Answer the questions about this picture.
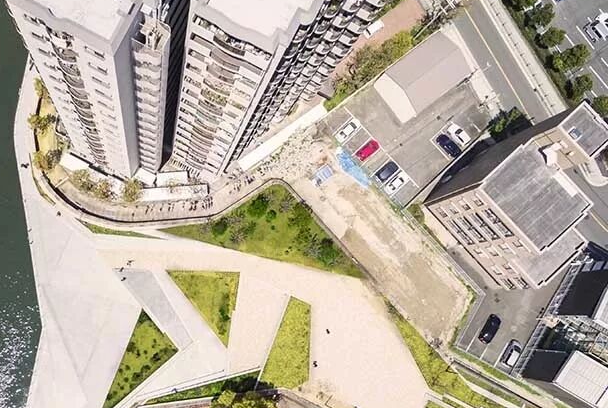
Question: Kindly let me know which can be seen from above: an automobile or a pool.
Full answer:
It is an automobile that can be seen here.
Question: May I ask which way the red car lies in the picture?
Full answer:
The red car has been laid out diagonally relative to the frame.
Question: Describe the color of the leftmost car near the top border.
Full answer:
The leftmost car near the top border is white.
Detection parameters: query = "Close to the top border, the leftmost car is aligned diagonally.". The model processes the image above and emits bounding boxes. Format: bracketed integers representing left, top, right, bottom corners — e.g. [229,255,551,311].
[362,20,385,40]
